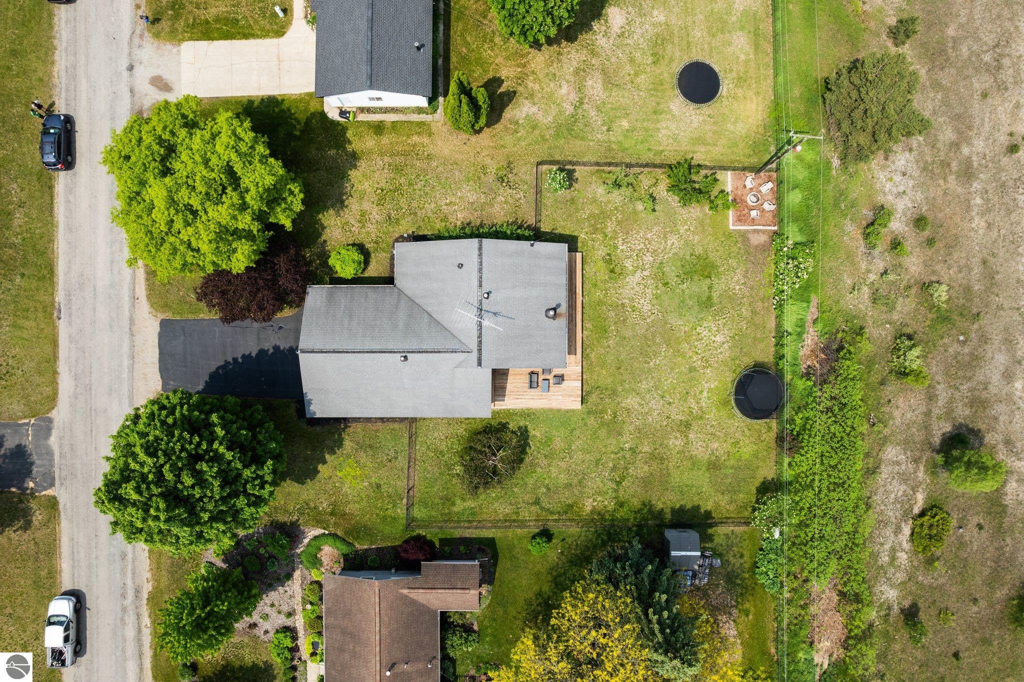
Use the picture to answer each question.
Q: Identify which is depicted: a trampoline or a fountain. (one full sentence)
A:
This aerial view contains a trampoline.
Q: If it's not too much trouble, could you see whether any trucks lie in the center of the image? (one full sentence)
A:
No, no truck appears in the center of the image.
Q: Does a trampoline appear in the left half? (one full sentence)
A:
No, no trampoline is visible in the left half.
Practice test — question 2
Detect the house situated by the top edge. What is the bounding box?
[310,0,433,108]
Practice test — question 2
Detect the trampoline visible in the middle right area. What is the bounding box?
[730,368,793,420]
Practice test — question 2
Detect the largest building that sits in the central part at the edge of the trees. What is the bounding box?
[298,238,568,419]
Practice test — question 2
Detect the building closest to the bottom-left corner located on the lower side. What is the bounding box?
[312,546,488,682]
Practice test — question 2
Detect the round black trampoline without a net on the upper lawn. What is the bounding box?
[673,59,723,110]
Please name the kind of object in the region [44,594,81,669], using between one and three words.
truck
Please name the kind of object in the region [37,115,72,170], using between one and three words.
car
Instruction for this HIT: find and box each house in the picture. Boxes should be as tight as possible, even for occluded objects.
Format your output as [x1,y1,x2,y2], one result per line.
[310,0,433,108]
[298,238,568,419]
[312,546,488,682]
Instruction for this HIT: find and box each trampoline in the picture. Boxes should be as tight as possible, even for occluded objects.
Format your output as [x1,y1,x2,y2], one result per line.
[673,59,723,110]
[730,368,793,420]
